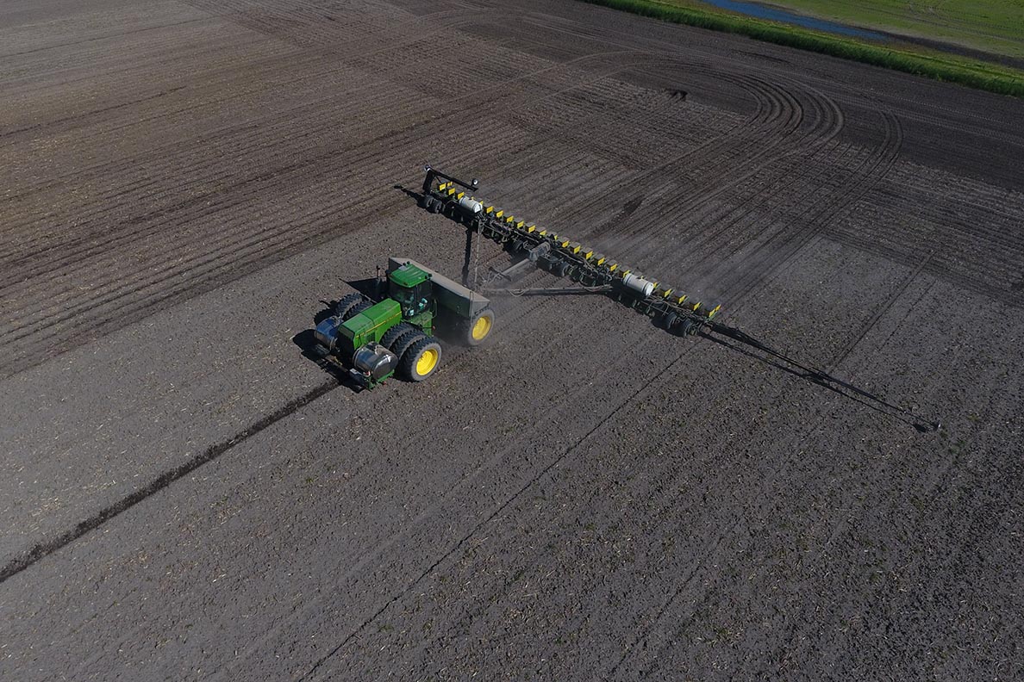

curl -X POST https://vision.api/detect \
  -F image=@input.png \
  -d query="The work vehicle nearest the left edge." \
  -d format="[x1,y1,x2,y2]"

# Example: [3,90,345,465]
[316,257,493,395]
